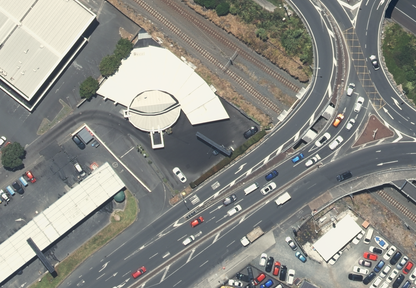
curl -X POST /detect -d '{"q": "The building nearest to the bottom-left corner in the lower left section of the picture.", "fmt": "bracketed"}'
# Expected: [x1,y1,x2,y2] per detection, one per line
[0,162,126,283]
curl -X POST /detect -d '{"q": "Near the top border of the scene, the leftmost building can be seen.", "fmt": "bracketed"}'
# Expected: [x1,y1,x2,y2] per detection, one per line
[0,0,98,102]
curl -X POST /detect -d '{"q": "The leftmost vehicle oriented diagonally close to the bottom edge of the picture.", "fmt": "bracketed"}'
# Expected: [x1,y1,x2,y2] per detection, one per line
[130,266,147,278]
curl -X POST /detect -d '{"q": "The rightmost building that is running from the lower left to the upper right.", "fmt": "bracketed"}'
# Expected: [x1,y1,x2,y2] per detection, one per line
[314,214,362,262]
